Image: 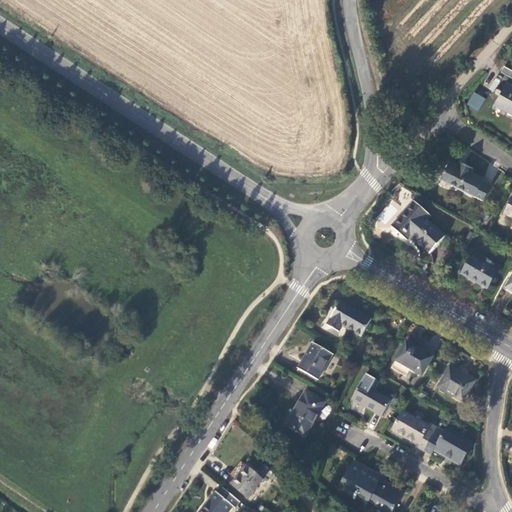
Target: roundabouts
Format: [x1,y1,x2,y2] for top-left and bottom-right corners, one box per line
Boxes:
[250,146,396,293]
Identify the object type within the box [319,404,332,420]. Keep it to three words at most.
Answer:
vehicle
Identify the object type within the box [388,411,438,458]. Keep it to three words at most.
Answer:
house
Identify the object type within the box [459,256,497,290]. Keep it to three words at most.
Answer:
house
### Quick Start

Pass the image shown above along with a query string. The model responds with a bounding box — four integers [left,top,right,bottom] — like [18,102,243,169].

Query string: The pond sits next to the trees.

[18,279,109,343]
